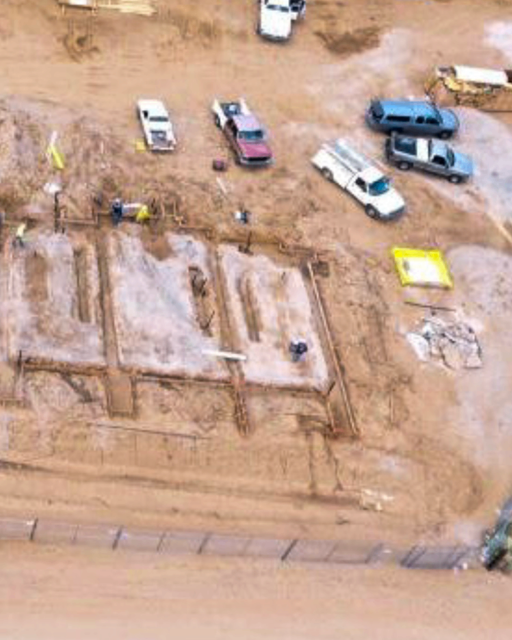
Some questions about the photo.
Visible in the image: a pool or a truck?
truck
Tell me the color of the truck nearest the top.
white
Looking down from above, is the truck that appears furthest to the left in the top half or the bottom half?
top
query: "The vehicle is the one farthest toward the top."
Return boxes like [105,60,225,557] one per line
[257,0,309,41]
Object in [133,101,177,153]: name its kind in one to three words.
truck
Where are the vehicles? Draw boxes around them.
[133,101,177,153]
[211,98,274,170]
[257,0,309,41]
[365,94,462,136]
[384,130,477,182]
[315,137,408,223]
